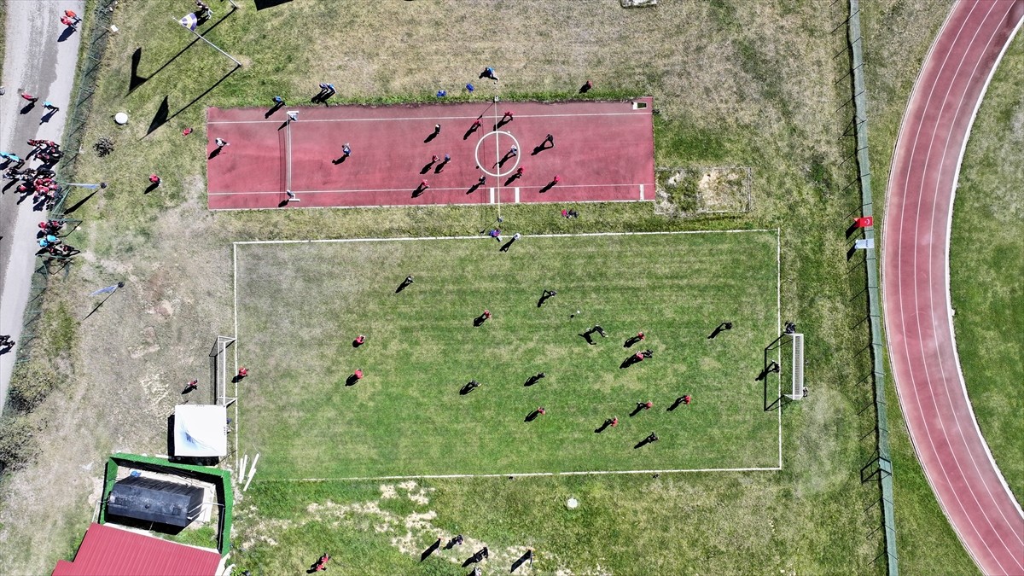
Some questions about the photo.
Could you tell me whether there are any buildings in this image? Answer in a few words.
Yes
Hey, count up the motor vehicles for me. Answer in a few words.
0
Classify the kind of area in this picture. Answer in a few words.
sports ground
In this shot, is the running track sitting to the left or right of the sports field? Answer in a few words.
to its right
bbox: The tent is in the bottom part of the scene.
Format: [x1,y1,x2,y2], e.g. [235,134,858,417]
[174,401,237,457]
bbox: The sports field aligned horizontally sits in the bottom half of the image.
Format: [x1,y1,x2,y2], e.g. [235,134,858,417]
[233,228,783,480]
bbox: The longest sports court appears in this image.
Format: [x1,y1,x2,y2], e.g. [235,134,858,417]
[207,97,655,210]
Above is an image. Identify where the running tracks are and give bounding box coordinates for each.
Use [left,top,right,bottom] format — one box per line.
[879,0,1024,576]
